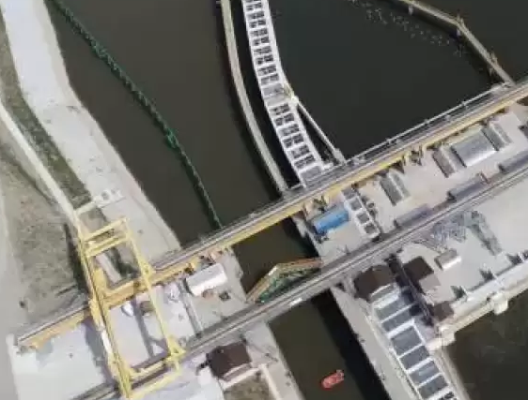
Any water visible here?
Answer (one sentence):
Yes, water shows up in the scene.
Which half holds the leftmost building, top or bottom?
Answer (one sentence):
The bottom half of the photo is where the leftmost building is.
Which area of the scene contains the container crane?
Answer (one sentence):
The container crane is located in the bottom left region of the scene.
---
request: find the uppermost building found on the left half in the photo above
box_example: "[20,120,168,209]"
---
[188,266,230,300]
